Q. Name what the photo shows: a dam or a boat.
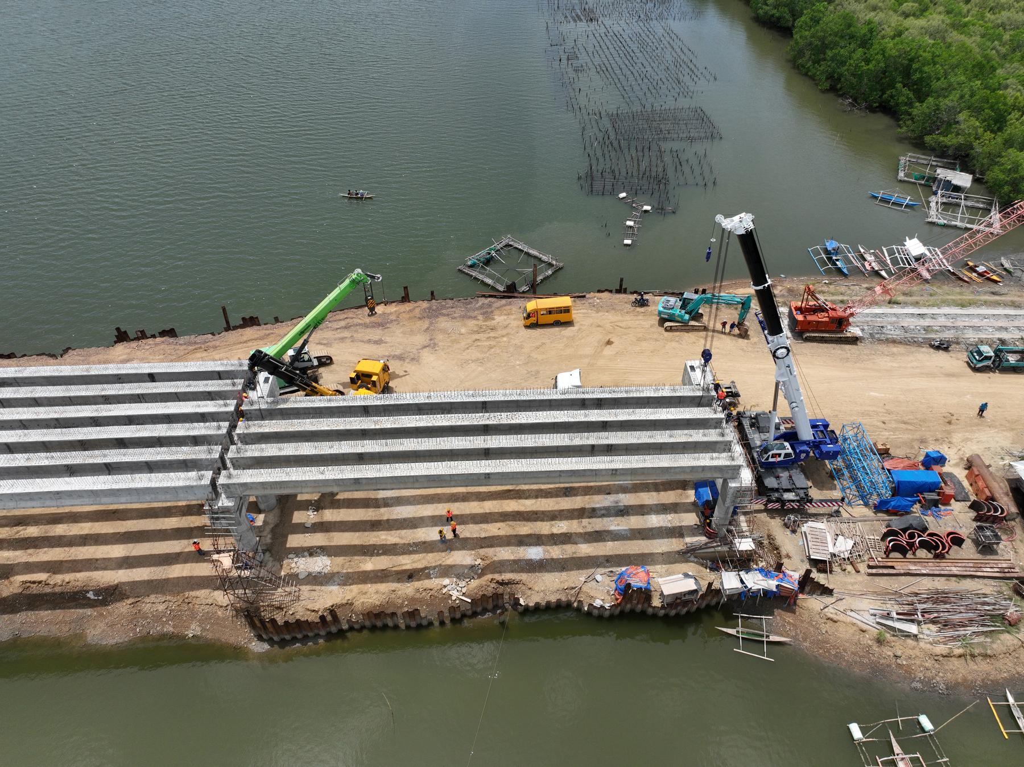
boat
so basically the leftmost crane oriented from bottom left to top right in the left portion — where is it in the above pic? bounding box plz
[268,266,386,397]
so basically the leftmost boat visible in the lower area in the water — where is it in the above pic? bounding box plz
[716,610,795,659]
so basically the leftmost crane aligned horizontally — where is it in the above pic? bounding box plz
[243,347,392,419]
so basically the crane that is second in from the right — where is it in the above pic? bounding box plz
[698,209,854,530]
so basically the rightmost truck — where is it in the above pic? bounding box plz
[966,337,1024,370]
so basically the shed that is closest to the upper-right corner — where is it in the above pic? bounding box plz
[931,170,984,199]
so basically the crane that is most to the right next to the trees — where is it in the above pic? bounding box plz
[783,192,1024,345]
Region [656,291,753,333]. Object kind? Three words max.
work vehicle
